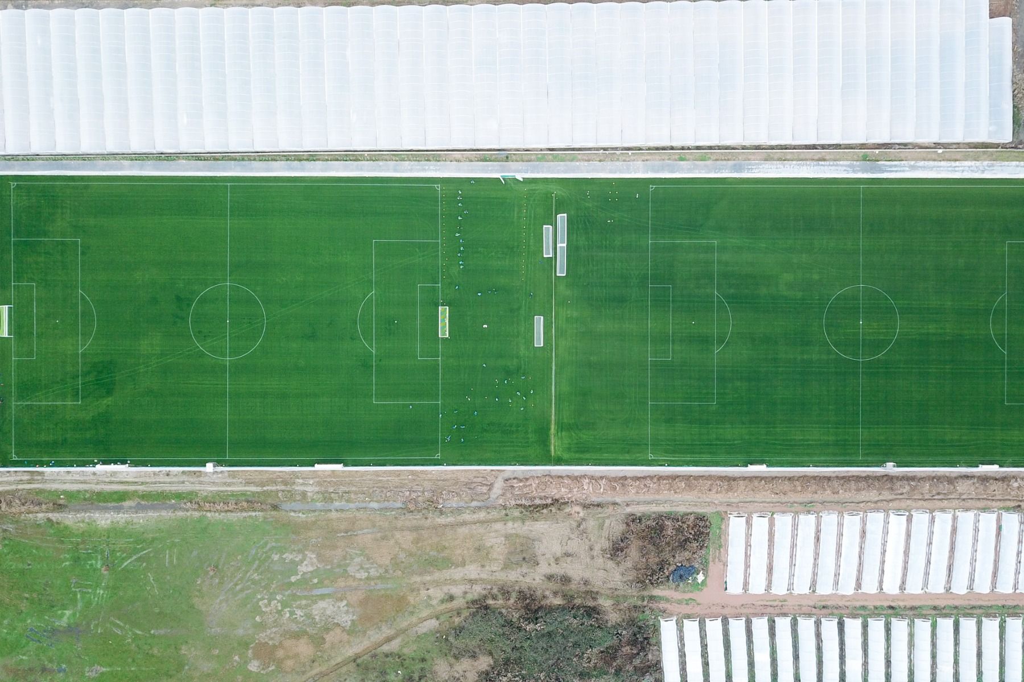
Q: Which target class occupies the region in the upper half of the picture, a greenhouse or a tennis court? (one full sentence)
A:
The one visible in the upper half of the picture is a greenhouse.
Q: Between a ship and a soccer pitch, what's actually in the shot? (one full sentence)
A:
Looking from above, you can make out a soccer pitch.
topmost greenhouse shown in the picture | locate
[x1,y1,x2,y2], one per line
[0,0,1012,154]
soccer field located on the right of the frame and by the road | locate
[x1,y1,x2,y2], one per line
[649,186,1024,459]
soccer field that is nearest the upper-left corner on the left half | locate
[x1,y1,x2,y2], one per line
[10,184,440,458]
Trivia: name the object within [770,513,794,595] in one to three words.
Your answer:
greenhouse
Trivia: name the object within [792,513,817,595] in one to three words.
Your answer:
greenhouse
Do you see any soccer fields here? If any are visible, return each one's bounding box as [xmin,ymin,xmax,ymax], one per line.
[10,184,440,458]
[649,186,1024,459]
